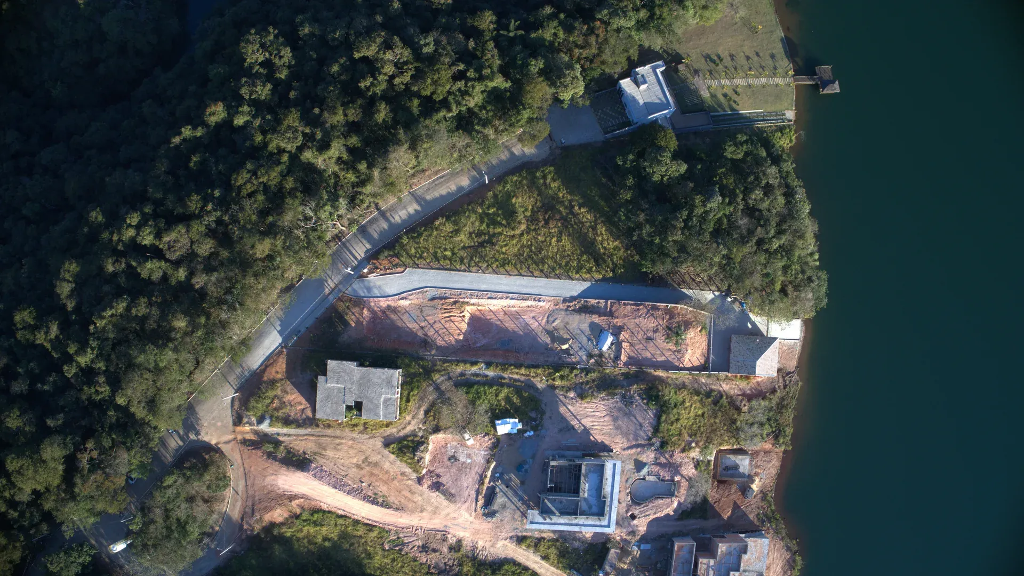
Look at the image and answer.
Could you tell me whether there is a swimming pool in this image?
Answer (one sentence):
Yes, a swimming pool can be made out from above.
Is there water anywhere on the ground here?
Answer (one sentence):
Yes, water shows up in the scene.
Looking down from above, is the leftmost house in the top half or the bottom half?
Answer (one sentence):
The leftmost house sits in the bottom half of the picture.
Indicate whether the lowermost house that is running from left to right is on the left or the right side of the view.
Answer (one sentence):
The lowermost house that is running from left to right appears in the right half of the scene.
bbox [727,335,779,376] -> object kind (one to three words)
house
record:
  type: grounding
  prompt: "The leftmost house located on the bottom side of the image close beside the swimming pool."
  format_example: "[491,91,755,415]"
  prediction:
[527,445,621,533]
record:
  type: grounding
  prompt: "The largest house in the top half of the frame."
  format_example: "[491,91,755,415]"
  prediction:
[617,61,675,129]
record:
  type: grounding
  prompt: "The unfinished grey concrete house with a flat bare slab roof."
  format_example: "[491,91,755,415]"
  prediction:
[316,360,403,421]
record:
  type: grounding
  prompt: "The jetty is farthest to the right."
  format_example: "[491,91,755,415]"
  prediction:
[793,65,835,85]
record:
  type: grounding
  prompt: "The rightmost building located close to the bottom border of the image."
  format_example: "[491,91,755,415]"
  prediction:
[667,535,769,576]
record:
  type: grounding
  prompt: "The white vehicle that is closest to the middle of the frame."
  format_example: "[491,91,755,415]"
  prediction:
[460,429,476,450]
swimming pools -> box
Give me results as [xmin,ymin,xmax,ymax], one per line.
[629,475,677,503]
